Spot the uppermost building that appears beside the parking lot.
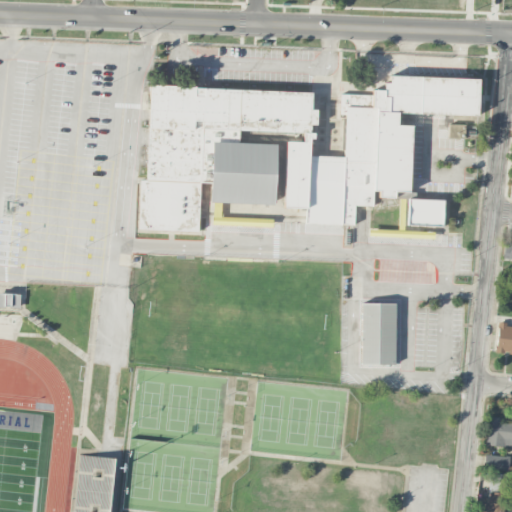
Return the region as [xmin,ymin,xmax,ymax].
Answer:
[138,75,484,231]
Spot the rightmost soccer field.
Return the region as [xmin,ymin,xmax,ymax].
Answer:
[146,266,330,364]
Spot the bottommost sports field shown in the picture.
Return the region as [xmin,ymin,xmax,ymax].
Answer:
[0,410,54,512]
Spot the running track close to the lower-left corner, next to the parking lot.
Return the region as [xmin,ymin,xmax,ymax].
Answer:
[0,337,76,512]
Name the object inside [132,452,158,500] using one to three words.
tennis court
